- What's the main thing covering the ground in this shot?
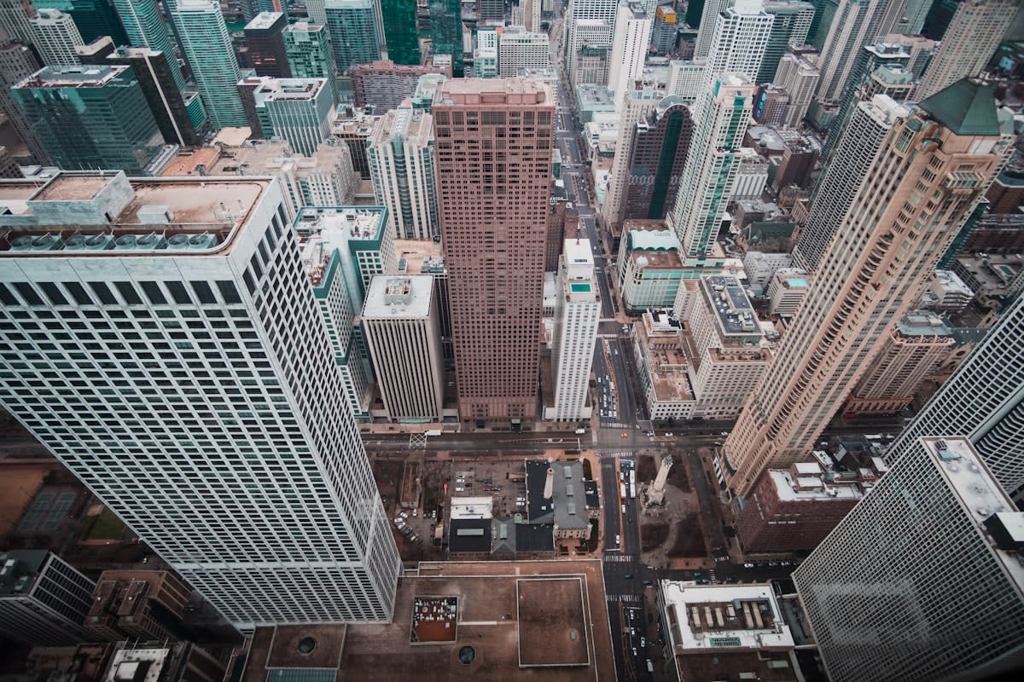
buildings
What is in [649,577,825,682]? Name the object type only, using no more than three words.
building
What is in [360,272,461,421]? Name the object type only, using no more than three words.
building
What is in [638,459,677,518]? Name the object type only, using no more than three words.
water tower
